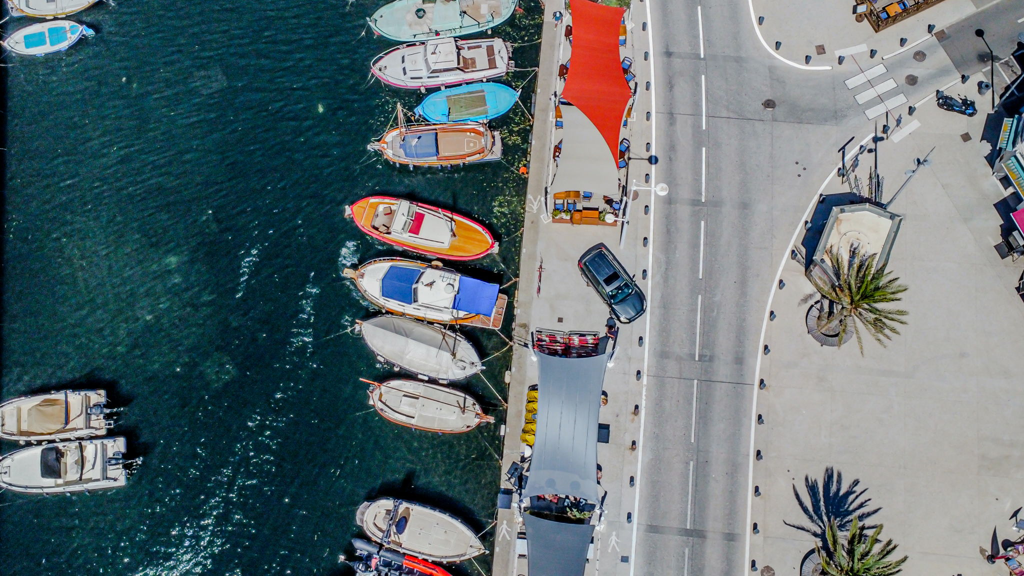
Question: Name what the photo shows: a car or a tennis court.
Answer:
car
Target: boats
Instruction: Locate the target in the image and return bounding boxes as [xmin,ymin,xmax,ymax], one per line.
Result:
[356,497,489,565]
[340,538,456,576]
[0,388,121,445]
[0,434,145,497]
[369,37,515,93]
[359,378,495,436]
[367,0,523,46]
[9,0,110,21]
[343,257,508,329]
[368,104,502,171]
[414,82,522,123]
[0,19,97,58]
[345,196,499,262]
[349,314,486,383]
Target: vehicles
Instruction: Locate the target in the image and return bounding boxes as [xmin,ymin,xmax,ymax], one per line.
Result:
[935,88,976,114]
[576,243,647,325]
